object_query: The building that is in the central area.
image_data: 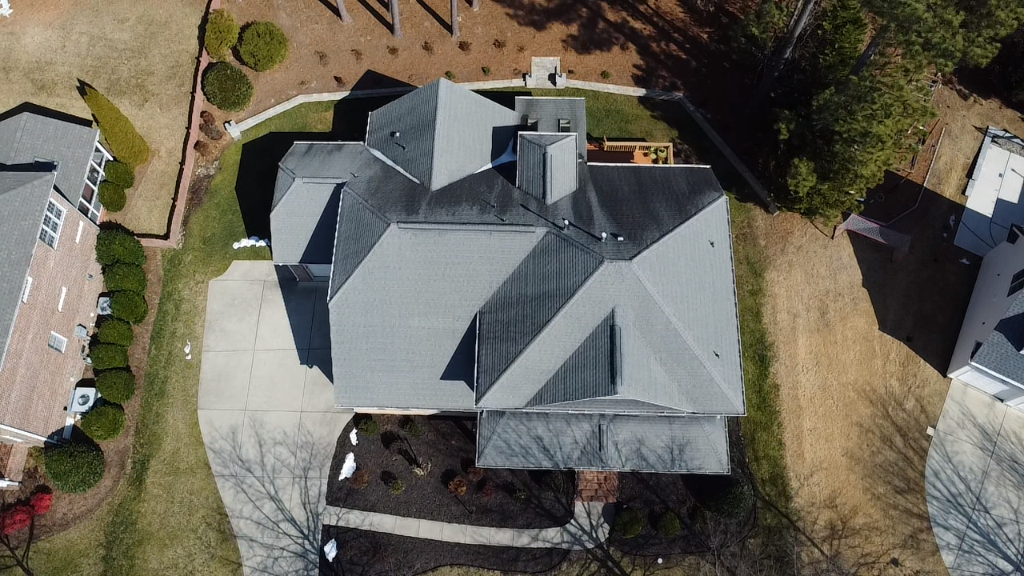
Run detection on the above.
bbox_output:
[267,75,748,478]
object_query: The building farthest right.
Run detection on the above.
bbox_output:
[946,227,1024,405]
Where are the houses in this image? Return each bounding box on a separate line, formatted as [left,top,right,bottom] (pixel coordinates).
[0,110,112,492]
[946,227,1024,405]
[267,75,748,478]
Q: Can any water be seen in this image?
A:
No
